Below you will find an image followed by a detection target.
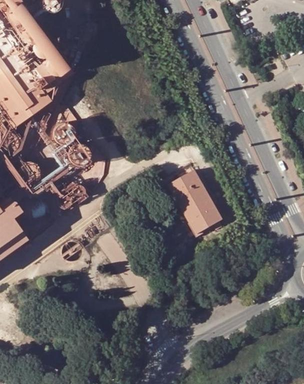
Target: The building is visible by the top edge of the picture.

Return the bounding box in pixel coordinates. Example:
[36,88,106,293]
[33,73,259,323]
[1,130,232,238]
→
[0,0,72,127]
